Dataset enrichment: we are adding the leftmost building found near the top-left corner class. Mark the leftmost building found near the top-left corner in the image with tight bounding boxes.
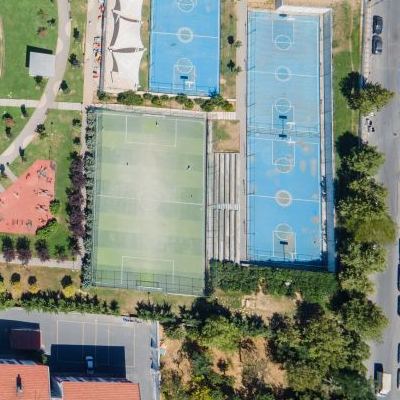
[28,52,56,78]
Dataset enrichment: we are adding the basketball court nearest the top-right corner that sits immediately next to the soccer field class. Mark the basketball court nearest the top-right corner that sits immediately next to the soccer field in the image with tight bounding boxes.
[248,11,322,136]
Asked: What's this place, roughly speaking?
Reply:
sports ground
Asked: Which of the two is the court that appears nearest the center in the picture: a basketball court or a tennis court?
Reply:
basketball court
